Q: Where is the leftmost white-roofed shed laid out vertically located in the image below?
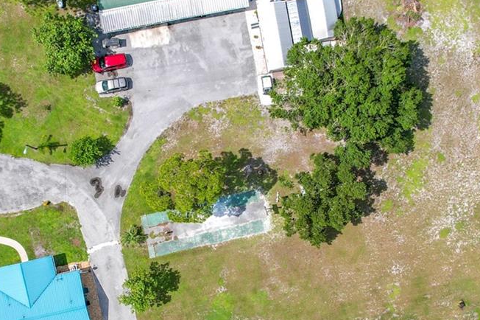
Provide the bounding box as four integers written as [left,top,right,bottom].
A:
[256,1,296,74]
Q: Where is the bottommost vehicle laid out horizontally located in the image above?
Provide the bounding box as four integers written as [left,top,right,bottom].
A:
[94,77,129,96]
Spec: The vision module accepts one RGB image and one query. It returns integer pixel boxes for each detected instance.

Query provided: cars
[92,54,129,74]
[94,77,129,96]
